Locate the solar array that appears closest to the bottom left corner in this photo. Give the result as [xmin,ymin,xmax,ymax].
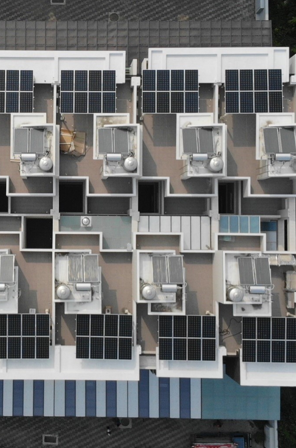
[0,307,50,358]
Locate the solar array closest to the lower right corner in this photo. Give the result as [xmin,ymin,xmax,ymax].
[235,310,296,362]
